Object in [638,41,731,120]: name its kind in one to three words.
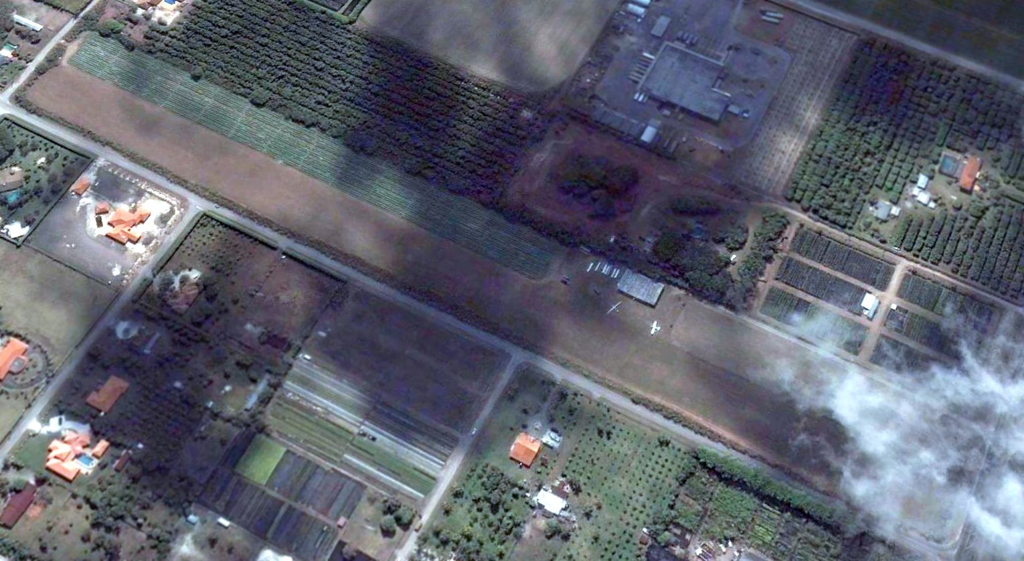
building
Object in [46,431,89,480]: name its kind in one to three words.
house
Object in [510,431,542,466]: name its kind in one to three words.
house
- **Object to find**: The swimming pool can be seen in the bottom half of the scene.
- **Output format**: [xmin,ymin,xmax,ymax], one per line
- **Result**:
[75,450,96,468]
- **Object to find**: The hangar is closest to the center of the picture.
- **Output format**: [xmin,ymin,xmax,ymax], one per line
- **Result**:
[617,268,665,306]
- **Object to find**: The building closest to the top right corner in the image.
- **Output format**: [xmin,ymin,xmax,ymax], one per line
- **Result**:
[960,155,982,189]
